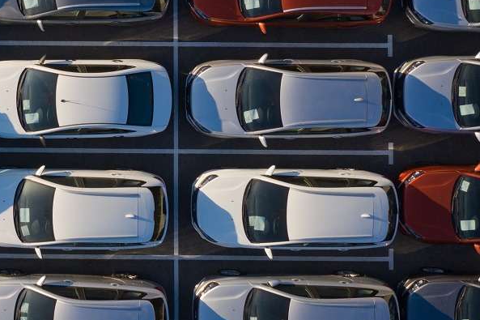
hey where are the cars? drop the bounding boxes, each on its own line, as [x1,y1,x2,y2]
[193,265,397,320]
[400,0,480,31]
[0,164,167,260]
[0,266,168,320]
[0,52,172,148]
[396,264,480,320]
[388,48,480,144]
[0,0,167,32]
[393,160,480,252]
[185,52,390,148]
[186,0,388,33]
[191,164,396,259]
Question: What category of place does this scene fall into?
parking lot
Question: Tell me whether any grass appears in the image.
No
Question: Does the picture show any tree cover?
No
